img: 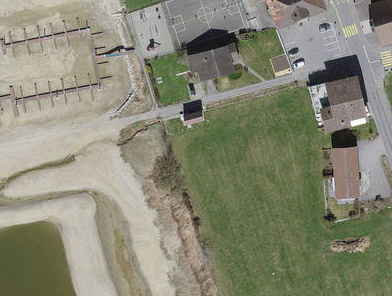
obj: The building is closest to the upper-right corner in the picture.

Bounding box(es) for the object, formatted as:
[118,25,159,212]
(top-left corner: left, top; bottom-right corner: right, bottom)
[368,0,392,48]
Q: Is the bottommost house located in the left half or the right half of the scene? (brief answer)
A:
right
